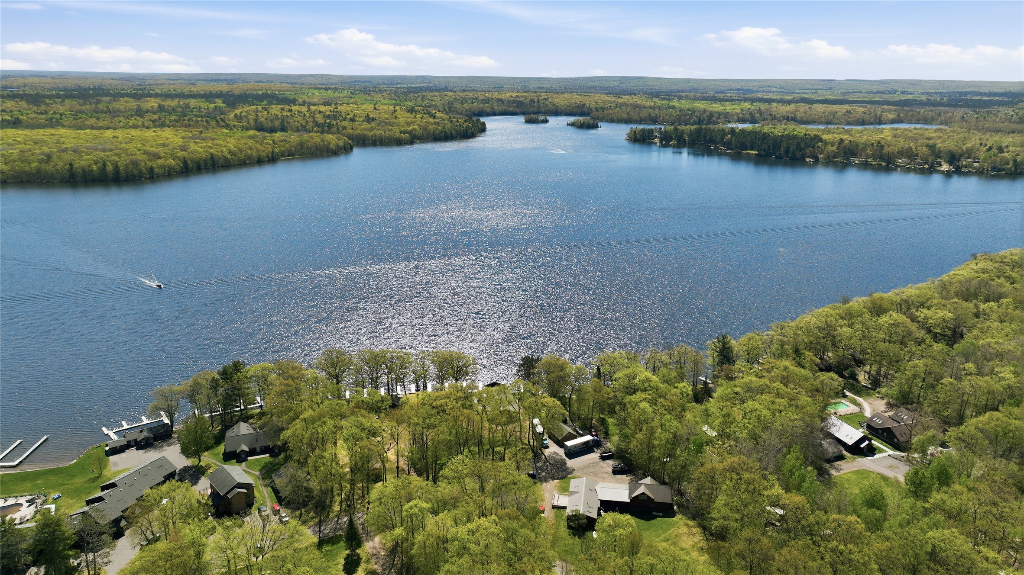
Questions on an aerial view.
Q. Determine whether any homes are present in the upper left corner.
No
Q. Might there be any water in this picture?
Yes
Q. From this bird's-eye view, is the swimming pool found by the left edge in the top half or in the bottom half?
bottom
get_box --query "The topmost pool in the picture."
[825,399,860,415]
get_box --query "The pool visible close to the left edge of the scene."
[0,497,43,521]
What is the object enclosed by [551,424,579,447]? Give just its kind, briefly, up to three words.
building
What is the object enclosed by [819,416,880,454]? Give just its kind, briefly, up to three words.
building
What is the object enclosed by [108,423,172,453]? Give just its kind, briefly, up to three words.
house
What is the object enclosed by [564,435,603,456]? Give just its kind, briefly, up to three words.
truck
